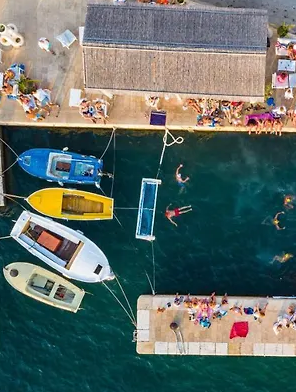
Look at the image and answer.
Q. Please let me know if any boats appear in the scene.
Yes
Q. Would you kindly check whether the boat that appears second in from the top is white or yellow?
yellow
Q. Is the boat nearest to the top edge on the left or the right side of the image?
left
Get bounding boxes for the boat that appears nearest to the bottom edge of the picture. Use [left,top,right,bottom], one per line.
[0,265,87,312]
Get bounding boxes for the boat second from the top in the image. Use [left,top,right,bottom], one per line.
[23,187,118,221]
